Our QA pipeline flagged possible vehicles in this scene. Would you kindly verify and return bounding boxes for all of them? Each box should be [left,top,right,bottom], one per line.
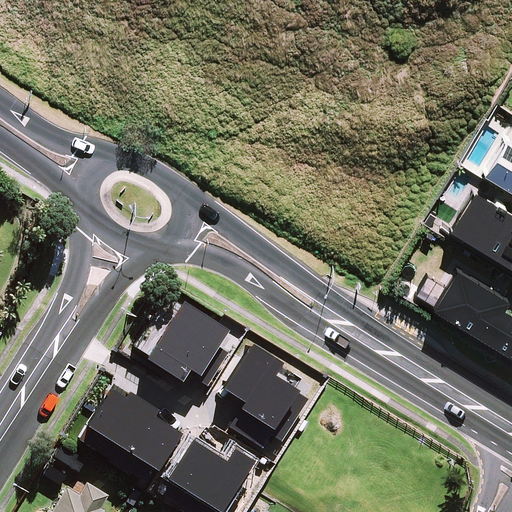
[196,202,222,224]
[8,362,28,388]
[38,392,60,417]
[322,324,352,350]
[70,136,96,154]
[160,406,182,424]
[55,362,78,390]
[442,400,468,420]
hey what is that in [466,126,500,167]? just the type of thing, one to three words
swimming pool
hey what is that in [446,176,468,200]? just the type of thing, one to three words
swimming pool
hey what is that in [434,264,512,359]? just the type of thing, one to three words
house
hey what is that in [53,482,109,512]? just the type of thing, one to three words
house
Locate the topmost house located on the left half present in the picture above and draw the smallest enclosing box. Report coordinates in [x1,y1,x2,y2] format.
[149,295,230,384]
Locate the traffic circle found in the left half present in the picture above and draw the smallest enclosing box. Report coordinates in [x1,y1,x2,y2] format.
[100,170,172,232]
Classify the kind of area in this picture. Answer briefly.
residential area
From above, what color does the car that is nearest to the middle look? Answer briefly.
black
